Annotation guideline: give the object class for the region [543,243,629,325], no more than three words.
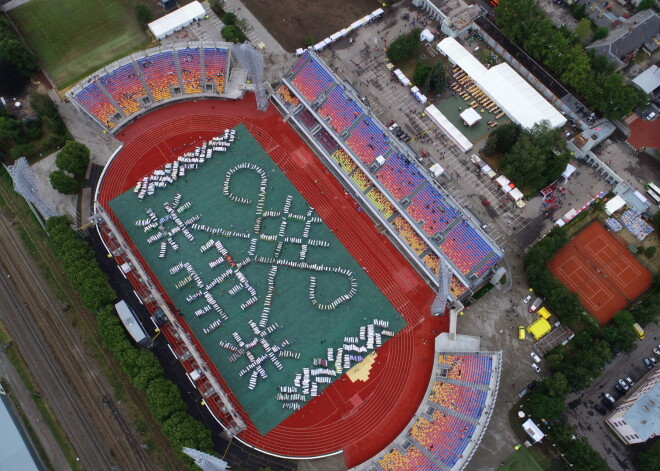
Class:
tennis court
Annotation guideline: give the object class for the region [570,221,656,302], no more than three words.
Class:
tennis court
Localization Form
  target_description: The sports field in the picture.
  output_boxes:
[109,124,405,434]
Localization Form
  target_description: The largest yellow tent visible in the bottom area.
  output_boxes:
[526,318,551,341]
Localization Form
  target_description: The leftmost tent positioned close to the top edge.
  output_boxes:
[148,1,207,43]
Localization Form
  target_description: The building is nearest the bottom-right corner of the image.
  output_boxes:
[608,363,660,444]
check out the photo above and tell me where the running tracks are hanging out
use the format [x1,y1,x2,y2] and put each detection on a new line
[98,99,449,465]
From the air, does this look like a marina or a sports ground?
sports ground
